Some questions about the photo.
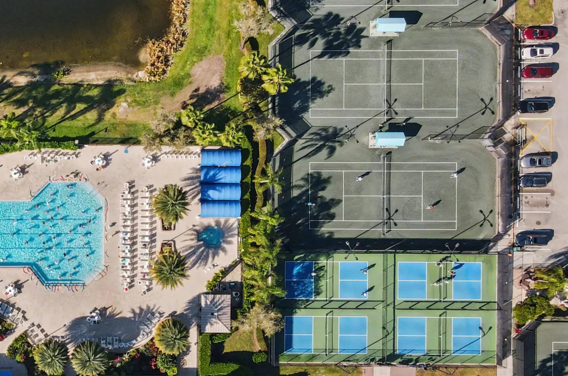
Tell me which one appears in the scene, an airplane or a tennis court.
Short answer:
tennis court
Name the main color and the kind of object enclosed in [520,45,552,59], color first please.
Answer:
white car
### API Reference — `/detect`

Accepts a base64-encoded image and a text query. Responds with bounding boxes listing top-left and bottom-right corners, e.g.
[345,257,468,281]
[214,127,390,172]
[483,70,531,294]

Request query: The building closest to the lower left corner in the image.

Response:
[199,294,230,333]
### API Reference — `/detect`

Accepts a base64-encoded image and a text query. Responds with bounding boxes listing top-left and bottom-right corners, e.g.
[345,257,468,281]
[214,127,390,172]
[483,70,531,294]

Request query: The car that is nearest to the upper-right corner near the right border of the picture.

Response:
[523,25,554,40]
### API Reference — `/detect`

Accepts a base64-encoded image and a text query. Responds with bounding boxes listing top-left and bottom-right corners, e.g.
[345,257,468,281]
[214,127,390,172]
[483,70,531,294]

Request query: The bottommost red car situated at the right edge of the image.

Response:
[521,64,553,78]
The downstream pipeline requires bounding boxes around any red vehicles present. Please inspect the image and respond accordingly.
[523,25,554,40]
[521,64,553,78]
